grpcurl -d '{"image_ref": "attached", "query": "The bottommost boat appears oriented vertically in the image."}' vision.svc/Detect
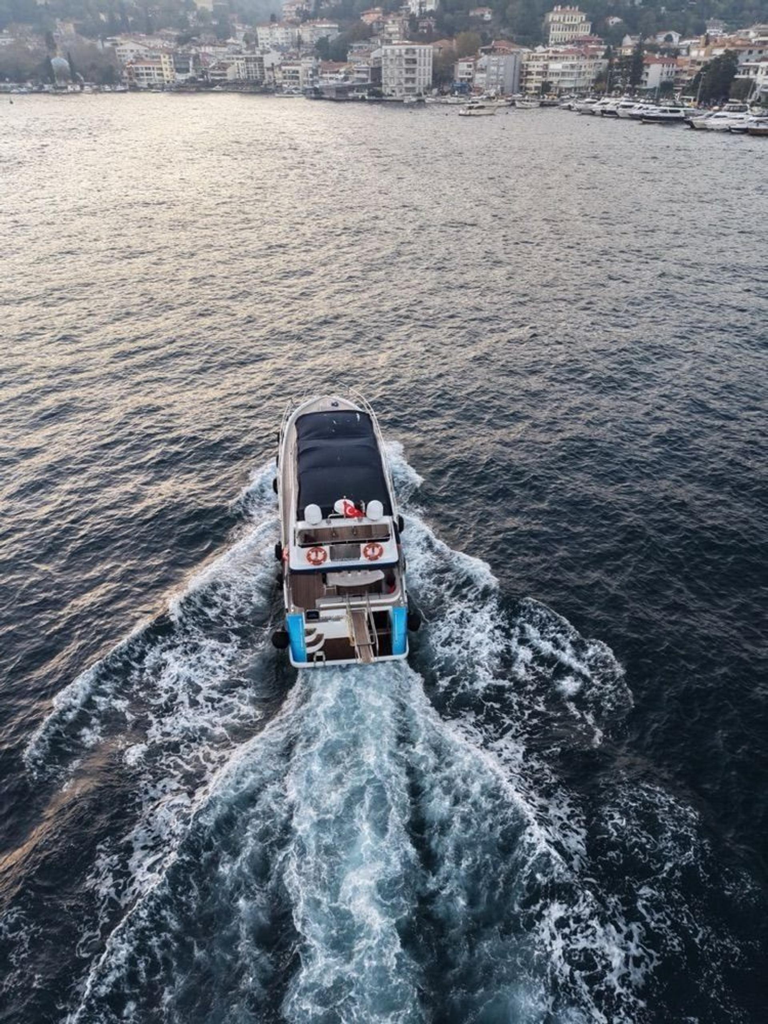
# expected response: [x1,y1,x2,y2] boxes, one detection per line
[276,384,411,671]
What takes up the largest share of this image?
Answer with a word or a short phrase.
water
